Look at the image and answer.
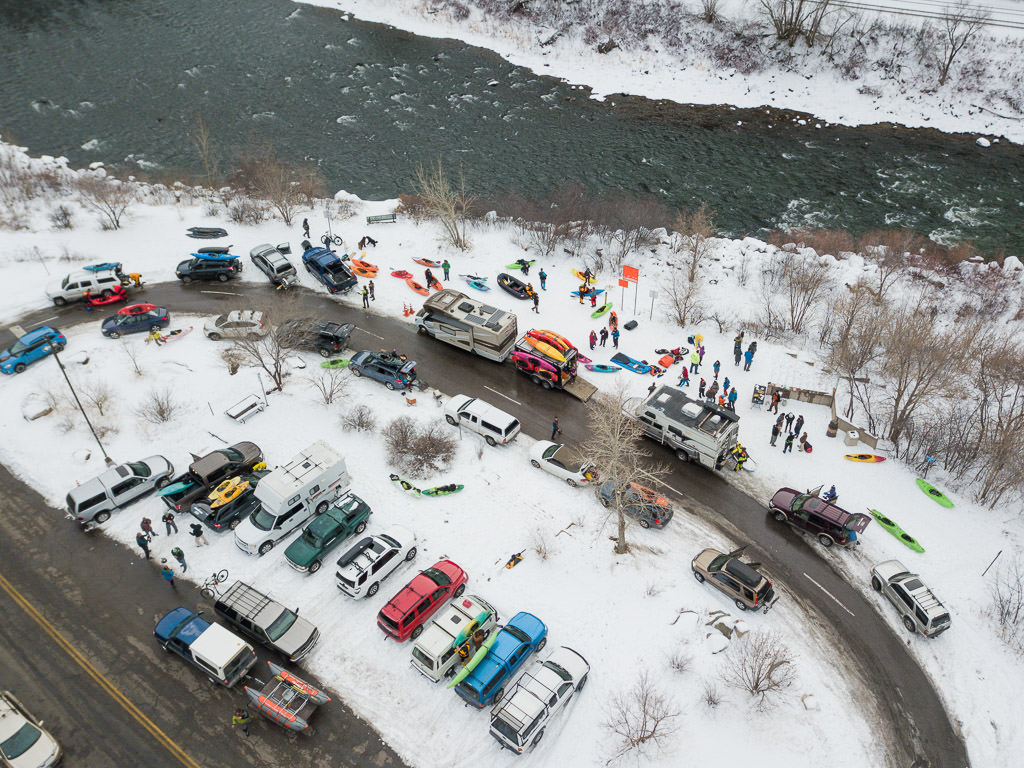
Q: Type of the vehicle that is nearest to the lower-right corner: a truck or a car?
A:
car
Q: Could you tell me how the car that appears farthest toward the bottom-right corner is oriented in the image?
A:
on a diagonal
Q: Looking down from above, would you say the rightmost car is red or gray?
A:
gray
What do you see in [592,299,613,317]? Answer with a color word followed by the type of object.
green boat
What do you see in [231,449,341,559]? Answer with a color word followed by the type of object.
white truck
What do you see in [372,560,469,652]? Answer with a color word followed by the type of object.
red car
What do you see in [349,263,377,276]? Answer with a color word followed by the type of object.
orange boat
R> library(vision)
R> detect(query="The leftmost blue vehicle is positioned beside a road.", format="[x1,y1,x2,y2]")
[0,327,70,373]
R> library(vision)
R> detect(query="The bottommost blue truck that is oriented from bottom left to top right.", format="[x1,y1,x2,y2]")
[452,612,551,720]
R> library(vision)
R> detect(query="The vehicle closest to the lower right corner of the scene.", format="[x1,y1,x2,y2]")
[868,559,962,648]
